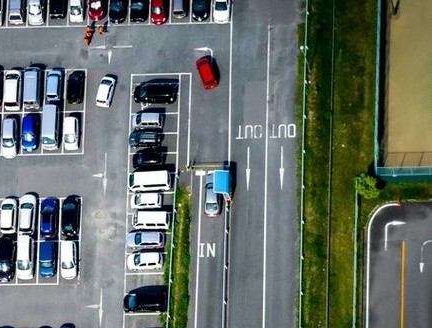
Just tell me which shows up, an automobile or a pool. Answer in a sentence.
The image shows an automobile.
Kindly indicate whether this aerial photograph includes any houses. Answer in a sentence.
No, no house can be seen from above.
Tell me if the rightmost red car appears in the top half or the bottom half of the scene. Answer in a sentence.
It is in the top half that the rightmost red car appears.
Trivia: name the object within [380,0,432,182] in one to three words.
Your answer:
sports court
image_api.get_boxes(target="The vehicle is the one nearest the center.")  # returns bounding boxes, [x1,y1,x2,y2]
[205,176,222,215]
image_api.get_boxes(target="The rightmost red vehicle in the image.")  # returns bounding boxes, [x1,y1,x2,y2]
[198,59,220,93]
